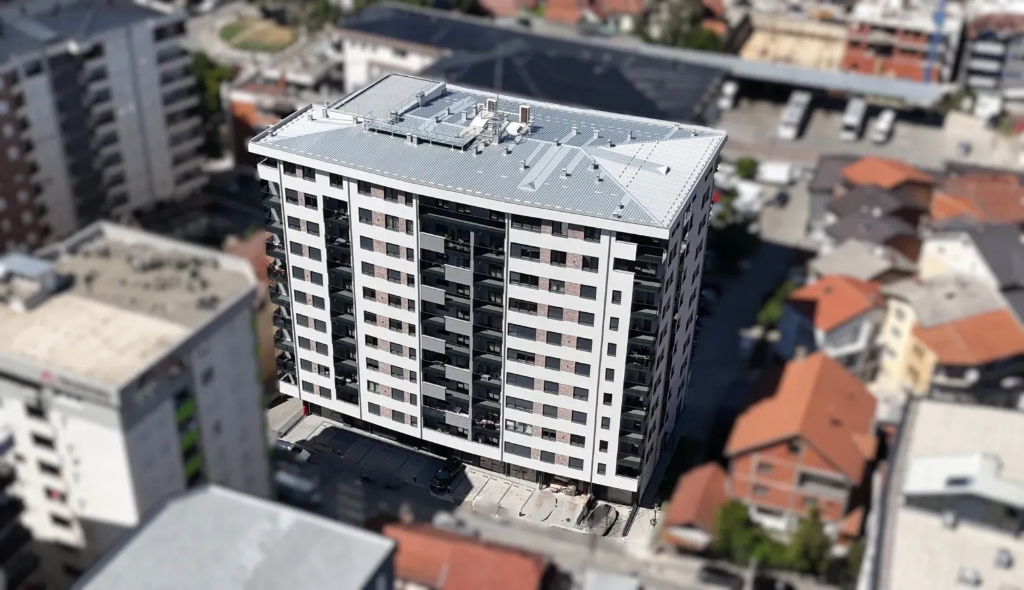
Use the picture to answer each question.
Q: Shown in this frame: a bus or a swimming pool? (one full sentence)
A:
Of the two, only a bus appears.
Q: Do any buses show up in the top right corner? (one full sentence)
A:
Yes, a bus is visible in the top right corner.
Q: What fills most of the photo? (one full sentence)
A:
The largest share of the image is taken up by buildings.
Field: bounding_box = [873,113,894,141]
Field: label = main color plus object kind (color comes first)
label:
white vehicle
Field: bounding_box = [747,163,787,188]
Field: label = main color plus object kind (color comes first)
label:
white vehicle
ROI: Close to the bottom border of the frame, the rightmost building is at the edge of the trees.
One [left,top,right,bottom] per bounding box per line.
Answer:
[871,396,1024,590]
